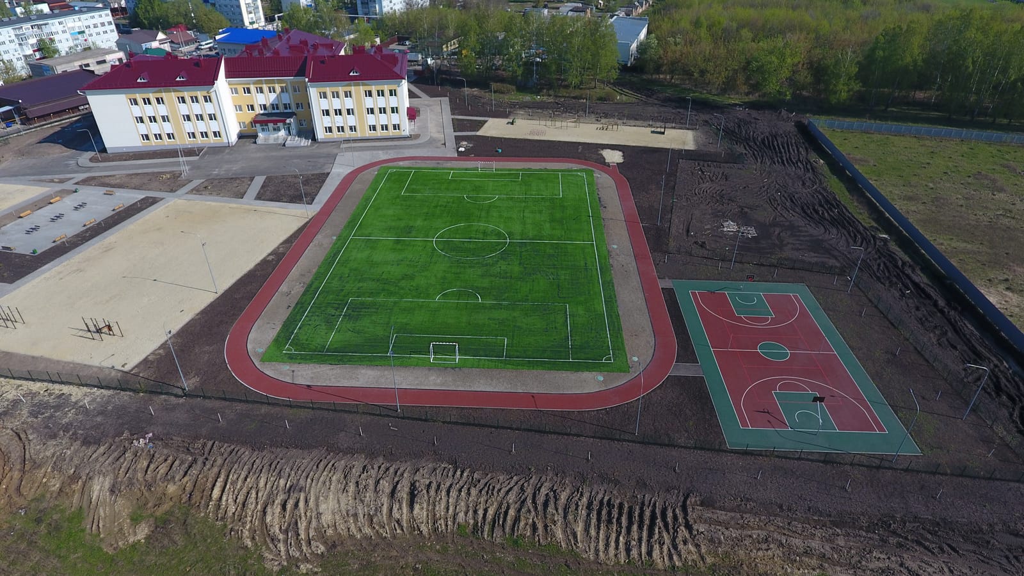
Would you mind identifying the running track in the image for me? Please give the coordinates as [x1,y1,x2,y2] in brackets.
[223,156,677,409]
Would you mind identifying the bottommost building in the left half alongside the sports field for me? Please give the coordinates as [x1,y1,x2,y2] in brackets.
[81,20,423,152]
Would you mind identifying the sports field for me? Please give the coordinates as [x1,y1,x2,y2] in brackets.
[261,166,630,372]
